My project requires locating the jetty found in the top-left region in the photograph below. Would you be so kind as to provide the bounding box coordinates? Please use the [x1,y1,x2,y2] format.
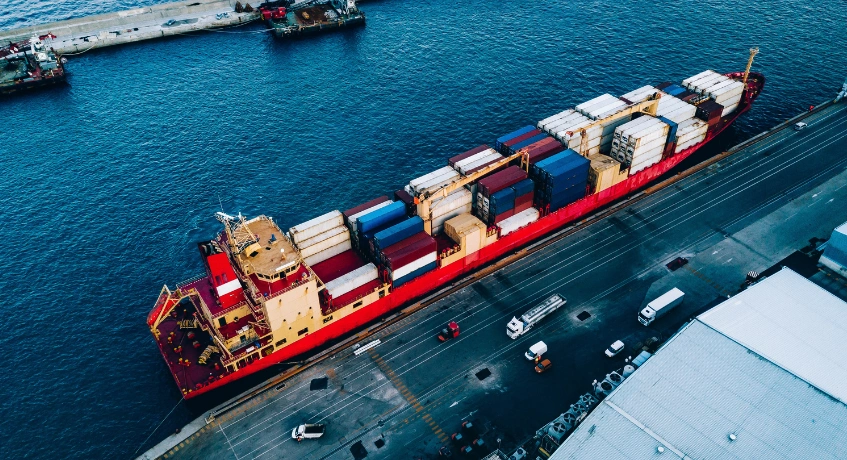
[0,0,356,66]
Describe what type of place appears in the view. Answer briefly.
port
